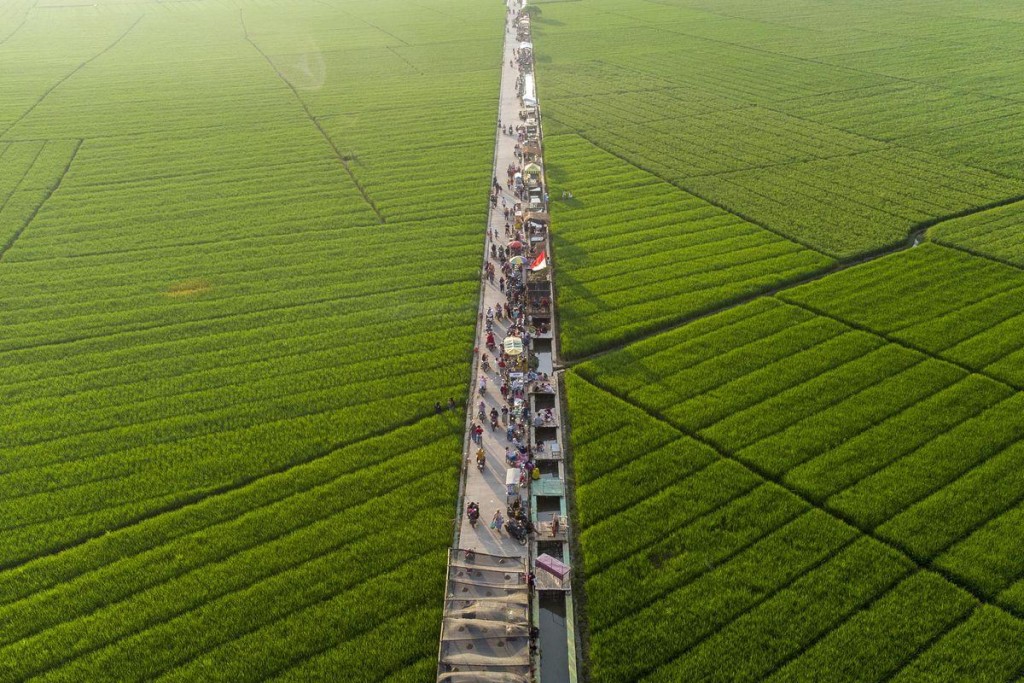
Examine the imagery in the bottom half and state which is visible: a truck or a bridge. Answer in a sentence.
Looking in the bottom half, you will find a bridge.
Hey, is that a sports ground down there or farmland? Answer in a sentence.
It's farmland.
